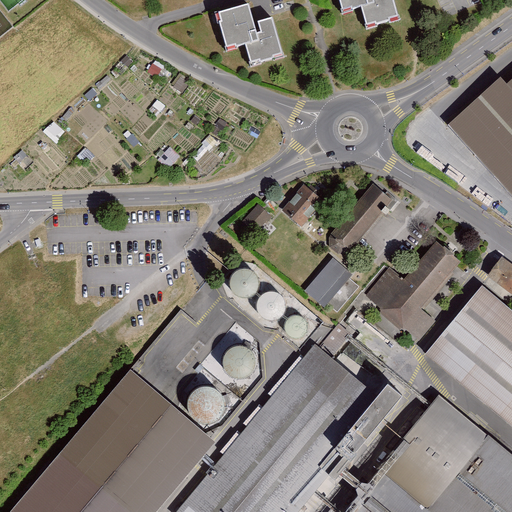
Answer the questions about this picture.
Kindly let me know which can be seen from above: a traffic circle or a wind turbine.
traffic circle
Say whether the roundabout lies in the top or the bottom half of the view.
top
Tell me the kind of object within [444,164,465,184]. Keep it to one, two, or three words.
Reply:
vehicle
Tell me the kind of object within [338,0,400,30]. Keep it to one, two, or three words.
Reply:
building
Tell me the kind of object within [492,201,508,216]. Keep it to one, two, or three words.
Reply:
vehicle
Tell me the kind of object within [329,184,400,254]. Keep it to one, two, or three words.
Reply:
house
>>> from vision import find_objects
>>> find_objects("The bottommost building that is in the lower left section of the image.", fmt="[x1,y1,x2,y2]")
[10,368,213,512]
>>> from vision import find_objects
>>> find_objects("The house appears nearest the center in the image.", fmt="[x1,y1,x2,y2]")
[244,204,272,226]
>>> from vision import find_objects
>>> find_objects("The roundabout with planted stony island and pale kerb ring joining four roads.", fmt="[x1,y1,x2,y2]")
[314,92,387,163]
